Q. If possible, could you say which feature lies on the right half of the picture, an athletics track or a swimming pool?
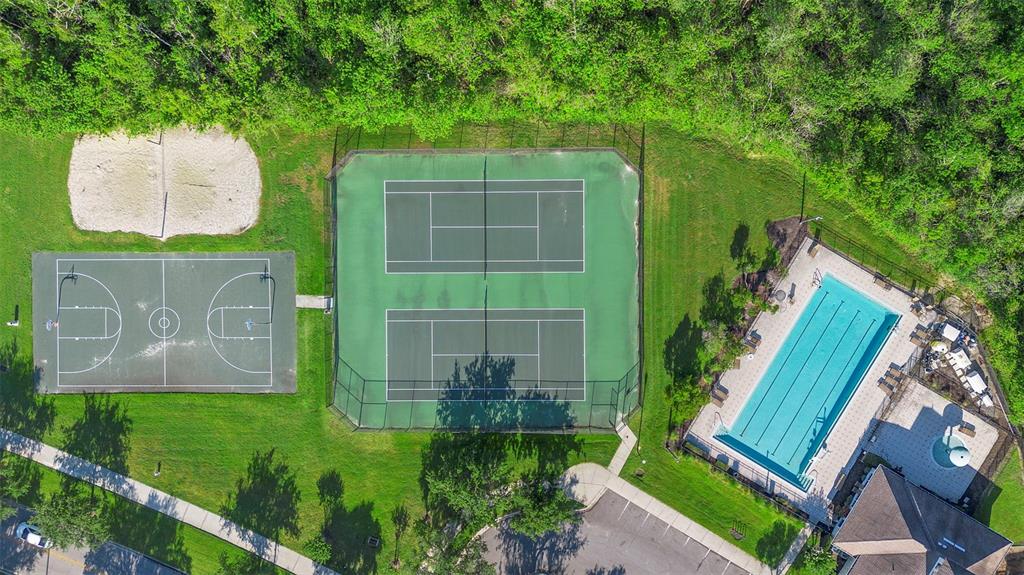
swimming pool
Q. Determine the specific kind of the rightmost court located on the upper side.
tennis court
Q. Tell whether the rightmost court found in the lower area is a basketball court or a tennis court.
tennis court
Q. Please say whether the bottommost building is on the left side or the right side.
right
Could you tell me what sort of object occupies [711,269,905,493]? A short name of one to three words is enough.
swimming pool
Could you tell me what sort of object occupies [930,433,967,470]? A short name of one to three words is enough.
swimming pool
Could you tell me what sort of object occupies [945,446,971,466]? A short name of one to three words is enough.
fountain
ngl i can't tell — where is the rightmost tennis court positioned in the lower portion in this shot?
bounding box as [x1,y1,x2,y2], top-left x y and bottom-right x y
[386,309,585,402]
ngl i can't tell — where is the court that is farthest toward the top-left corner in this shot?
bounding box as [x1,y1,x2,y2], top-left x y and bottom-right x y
[68,123,261,240]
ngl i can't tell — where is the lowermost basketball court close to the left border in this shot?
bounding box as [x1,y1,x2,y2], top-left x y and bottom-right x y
[33,252,296,394]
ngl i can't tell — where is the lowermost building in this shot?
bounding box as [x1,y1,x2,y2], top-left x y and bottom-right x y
[828,464,1015,575]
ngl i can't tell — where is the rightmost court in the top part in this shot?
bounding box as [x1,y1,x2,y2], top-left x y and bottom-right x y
[385,180,585,273]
